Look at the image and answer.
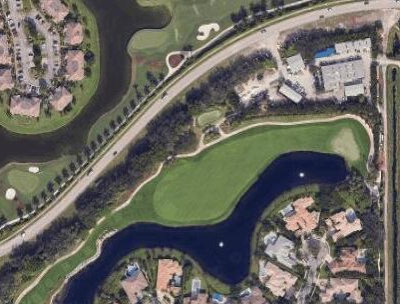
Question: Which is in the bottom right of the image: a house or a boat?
house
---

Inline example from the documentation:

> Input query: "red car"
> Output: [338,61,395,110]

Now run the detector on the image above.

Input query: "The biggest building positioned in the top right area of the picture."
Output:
[322,60,365,92]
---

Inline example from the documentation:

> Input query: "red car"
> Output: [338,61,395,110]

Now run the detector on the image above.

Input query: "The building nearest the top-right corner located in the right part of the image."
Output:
[336,38,371,54]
